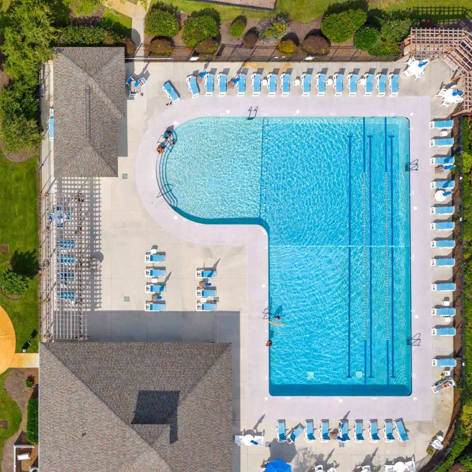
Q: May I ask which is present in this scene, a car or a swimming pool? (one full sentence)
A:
The one in the frame is a swimming pool.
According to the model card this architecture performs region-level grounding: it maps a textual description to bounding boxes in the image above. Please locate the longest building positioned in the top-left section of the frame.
[52,46,122,177]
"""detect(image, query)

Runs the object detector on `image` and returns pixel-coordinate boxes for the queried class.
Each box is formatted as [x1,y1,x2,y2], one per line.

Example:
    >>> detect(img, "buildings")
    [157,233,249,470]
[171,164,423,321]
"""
[38,342,234,472]
[52,46,122,177]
